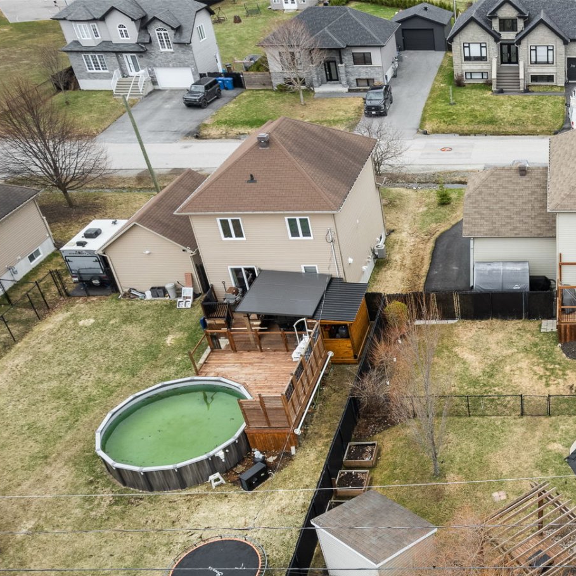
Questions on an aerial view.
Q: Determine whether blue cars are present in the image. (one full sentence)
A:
No, I find no blue car anywhere in the image.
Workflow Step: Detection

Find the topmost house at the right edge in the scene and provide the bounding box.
[447,0,576,94]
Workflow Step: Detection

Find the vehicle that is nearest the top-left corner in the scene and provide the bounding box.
[179,78,223,107]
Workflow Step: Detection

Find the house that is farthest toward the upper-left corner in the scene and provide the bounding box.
[55,0,226,97]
